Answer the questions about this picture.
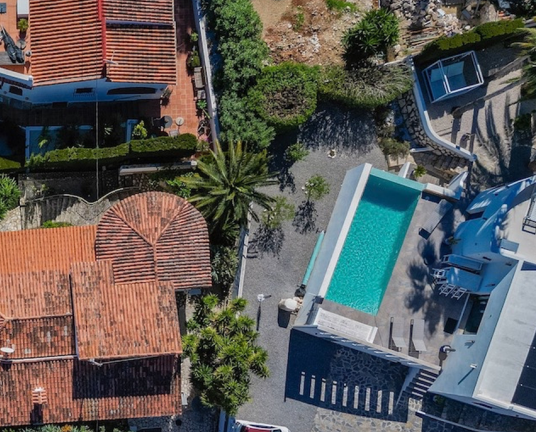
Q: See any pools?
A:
Yes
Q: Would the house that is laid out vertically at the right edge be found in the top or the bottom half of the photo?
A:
bottom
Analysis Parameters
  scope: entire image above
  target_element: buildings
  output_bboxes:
[0,0,177,100]
[426,47,498,99]
[0,190,213,429]
[433,173,536,416]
